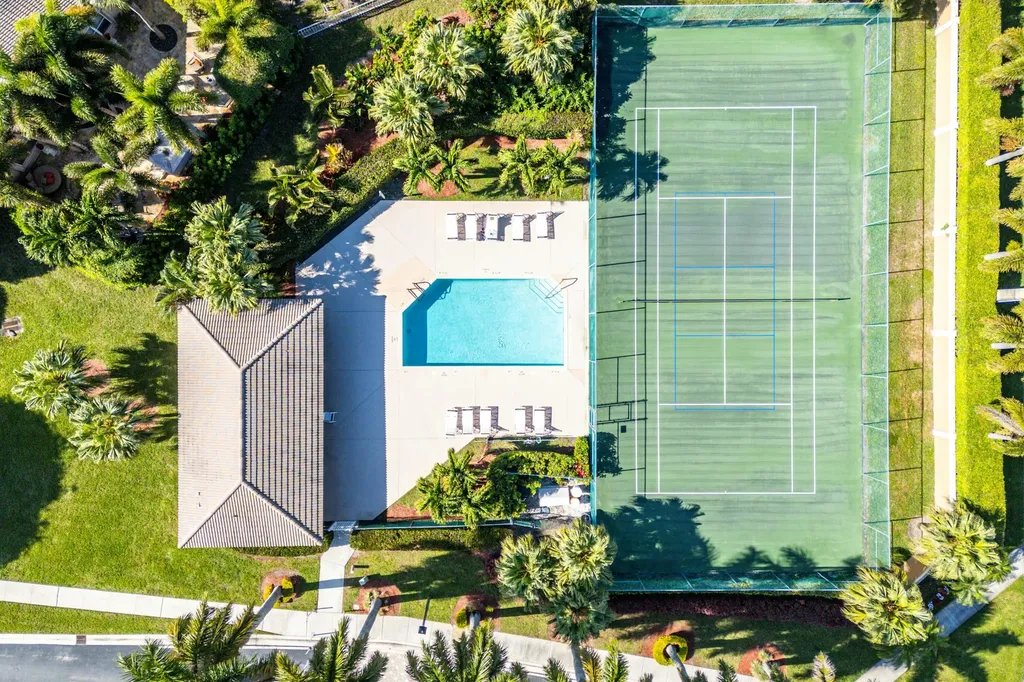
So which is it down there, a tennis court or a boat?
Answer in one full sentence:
Visible in the photo is a tennis court.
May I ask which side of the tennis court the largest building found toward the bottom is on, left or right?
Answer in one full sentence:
You can see the largest building found toward the bottom positioned to the left of the tennis court.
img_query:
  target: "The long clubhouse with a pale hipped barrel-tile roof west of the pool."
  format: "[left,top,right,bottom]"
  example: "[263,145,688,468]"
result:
[175,297,325,550]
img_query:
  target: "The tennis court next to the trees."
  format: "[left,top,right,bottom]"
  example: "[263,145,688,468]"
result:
[590,24,869,574]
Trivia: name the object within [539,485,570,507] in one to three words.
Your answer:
shed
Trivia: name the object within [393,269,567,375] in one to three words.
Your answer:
swimming pool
